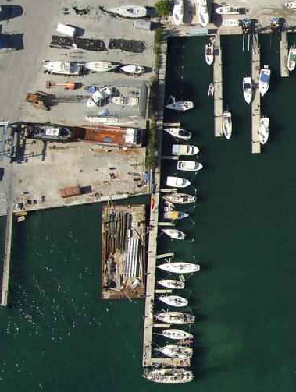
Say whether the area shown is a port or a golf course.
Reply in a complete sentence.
It's a port.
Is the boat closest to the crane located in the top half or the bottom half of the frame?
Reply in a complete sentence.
Seen from above, the boat closest to the crane lies in the top half of the view.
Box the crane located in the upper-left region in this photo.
[20,91,89,113]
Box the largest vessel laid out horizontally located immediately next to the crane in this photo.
[72,124,146,149]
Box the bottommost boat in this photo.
[142,369,194,383]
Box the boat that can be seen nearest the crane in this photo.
[88,86,114,107]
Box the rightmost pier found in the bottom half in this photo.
[142,121,190,367]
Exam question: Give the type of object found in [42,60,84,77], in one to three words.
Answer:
boat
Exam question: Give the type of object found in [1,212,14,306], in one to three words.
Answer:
pier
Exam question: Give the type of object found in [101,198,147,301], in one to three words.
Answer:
ship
